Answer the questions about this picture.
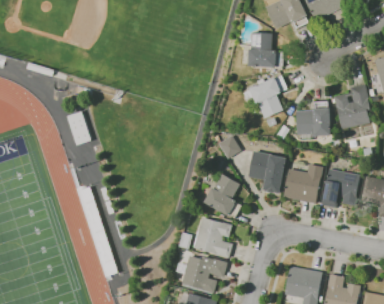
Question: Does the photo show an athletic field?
Yes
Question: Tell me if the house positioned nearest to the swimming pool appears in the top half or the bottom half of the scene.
top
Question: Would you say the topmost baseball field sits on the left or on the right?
left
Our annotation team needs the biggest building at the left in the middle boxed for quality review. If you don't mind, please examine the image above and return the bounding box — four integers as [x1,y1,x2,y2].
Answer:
[68,111,92,145]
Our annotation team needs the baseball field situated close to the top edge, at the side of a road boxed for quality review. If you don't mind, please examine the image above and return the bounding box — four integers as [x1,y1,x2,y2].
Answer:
[0,0,233,114]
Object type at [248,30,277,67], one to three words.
house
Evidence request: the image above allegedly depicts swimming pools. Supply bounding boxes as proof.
[241,20,260,44]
